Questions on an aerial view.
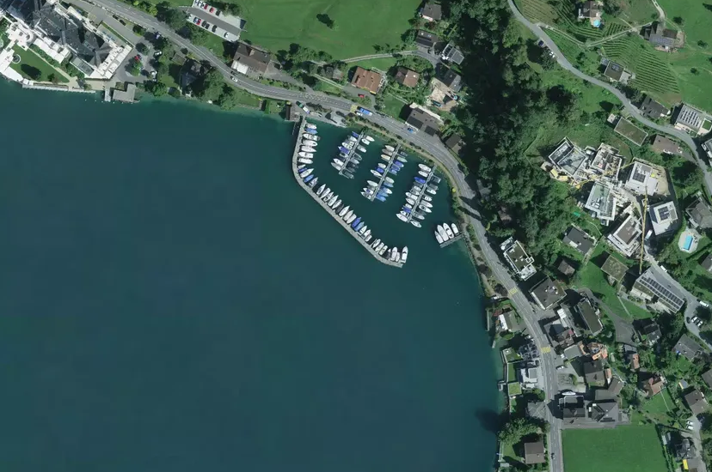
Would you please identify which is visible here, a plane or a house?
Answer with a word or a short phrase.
house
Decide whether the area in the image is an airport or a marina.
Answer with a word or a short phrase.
marina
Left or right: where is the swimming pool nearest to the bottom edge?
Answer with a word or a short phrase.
right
